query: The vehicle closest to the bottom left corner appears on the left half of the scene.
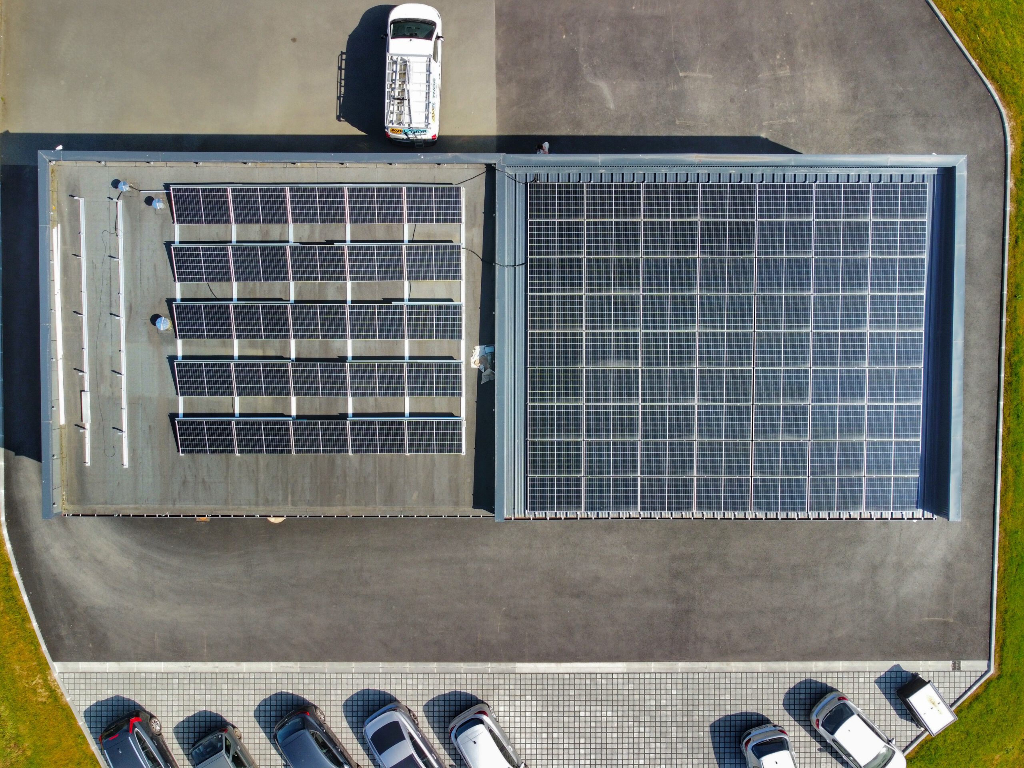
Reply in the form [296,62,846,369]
[97,711,181,768]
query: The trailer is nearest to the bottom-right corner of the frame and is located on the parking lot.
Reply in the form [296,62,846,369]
[896,673,957,736]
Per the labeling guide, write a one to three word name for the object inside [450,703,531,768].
car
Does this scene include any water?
No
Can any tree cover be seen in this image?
No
